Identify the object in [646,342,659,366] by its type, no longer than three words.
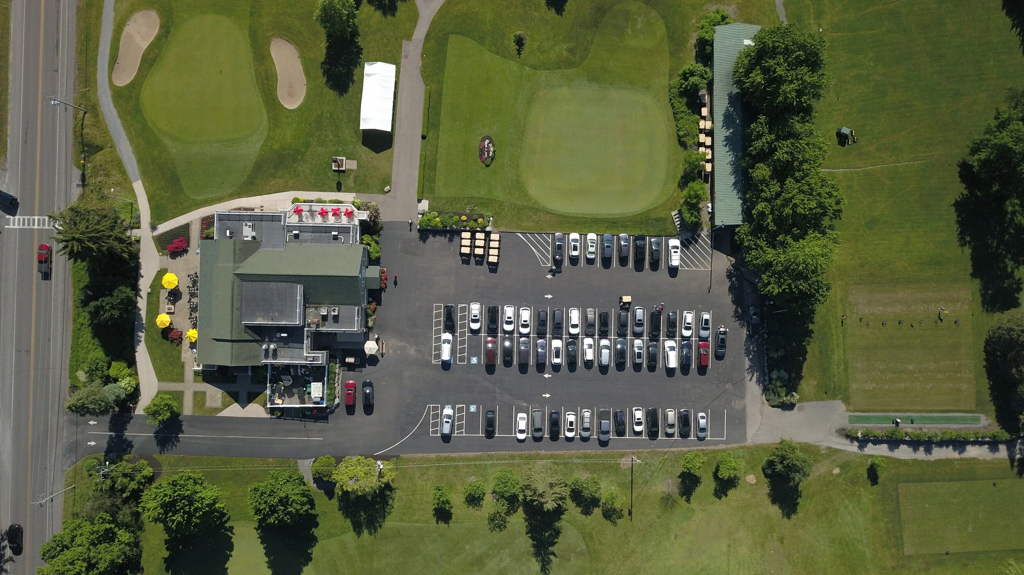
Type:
vehicle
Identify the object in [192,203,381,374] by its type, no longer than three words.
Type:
building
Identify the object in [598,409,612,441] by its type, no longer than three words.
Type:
vehicle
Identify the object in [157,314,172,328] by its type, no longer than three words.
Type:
umbrella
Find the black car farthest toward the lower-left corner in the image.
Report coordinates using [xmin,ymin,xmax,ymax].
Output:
[8,523,24,552]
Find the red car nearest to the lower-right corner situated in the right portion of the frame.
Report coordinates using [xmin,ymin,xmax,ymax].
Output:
[697,342,711,366]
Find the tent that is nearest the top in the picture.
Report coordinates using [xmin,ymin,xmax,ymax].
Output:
[360,61,398,133]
